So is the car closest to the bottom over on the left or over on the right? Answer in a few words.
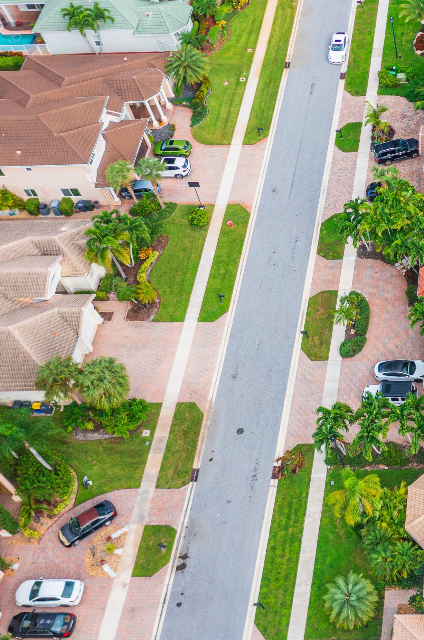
left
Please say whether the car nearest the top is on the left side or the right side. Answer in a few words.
right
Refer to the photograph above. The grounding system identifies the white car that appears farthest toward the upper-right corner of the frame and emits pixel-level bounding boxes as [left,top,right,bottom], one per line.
[325,32,348,64]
